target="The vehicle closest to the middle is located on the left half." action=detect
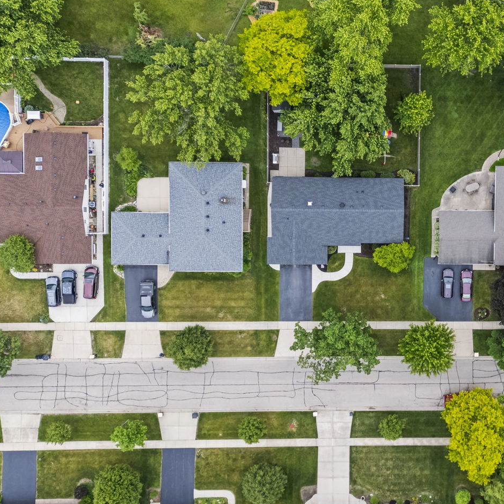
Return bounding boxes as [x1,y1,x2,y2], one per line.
[139,280,156,318]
